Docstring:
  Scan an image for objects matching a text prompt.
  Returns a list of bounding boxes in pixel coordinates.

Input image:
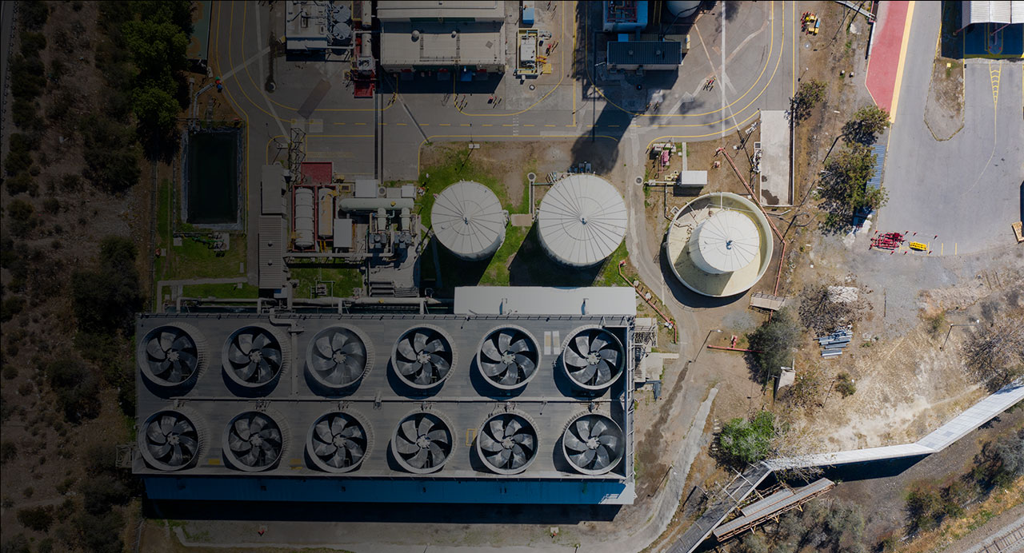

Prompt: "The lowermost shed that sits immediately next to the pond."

[258,216,288,289]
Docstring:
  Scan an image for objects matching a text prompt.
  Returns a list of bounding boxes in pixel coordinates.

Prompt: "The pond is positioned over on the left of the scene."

[181,124,245,232]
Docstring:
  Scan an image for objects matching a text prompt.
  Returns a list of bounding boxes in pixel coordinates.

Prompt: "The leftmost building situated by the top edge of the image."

[286,0,331,52]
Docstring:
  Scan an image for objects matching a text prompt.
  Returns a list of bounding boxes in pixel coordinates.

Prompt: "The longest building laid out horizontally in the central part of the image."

[454,287,636,315]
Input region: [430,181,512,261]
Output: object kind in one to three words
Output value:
storage tank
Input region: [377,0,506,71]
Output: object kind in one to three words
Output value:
building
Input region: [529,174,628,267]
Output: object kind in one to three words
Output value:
storage tank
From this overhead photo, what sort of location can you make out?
industrial area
